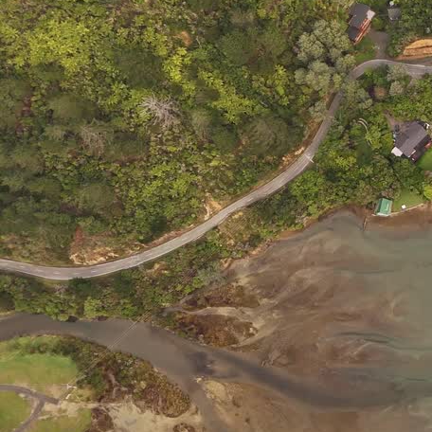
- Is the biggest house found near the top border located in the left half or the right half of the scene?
right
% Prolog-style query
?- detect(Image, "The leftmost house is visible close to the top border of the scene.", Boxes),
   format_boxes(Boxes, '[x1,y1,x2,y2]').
[346,2,375,44]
